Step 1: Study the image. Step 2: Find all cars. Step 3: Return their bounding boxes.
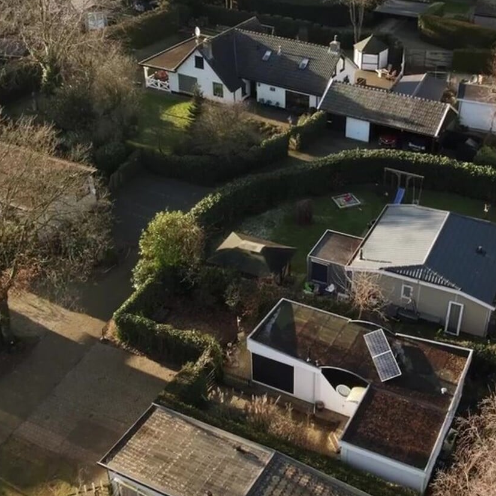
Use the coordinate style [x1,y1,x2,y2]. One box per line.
[373,125,406,147]
[405,129,443,155]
